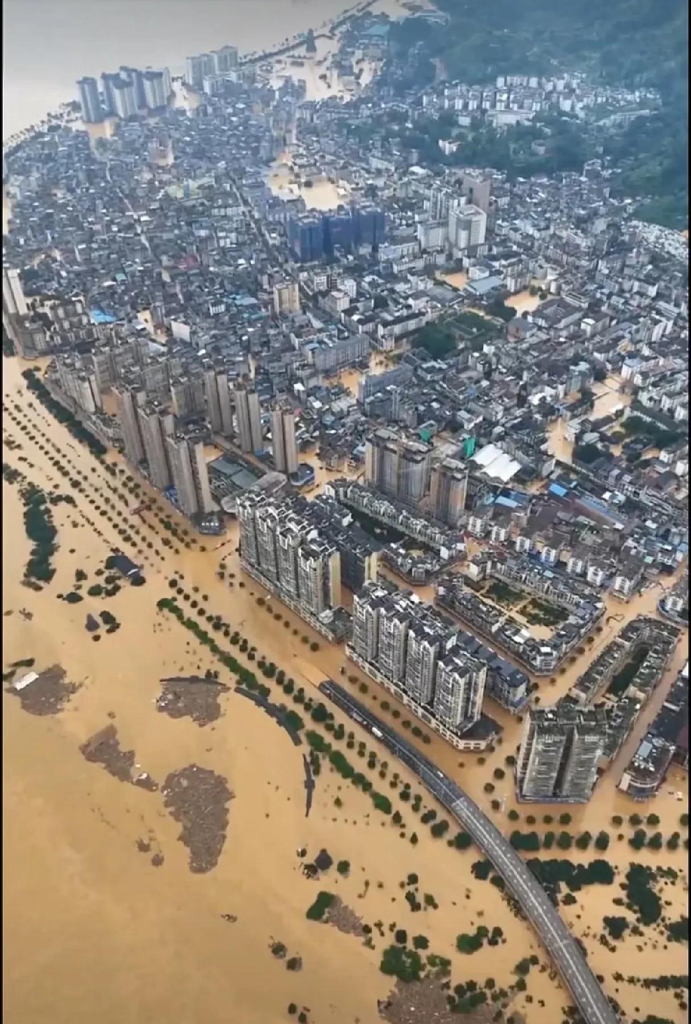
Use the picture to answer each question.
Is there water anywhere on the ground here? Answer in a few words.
Yes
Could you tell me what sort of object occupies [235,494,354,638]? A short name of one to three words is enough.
building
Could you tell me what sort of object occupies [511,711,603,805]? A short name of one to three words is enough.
building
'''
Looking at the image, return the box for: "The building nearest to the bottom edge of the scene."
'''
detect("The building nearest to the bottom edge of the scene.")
[313,856,334,878]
